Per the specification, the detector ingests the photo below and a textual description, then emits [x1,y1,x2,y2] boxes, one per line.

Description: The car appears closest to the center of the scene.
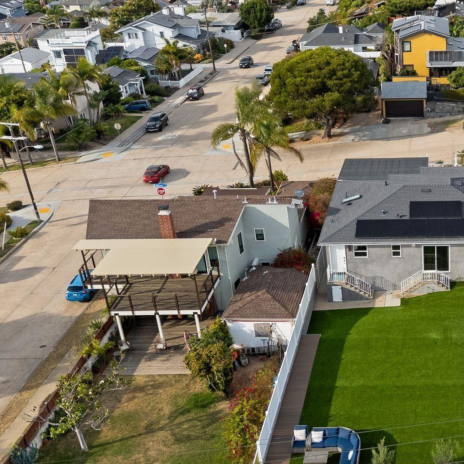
[135,164,177,186]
